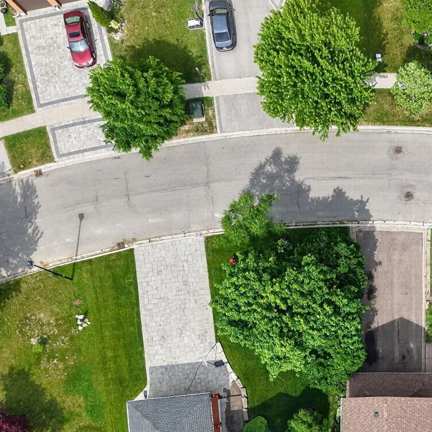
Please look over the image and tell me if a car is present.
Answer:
Yes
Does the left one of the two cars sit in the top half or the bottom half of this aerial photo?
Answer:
top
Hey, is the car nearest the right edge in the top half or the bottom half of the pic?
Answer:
top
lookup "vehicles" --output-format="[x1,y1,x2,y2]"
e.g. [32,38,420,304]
[63,12,96,67]
[208,0,237,52]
